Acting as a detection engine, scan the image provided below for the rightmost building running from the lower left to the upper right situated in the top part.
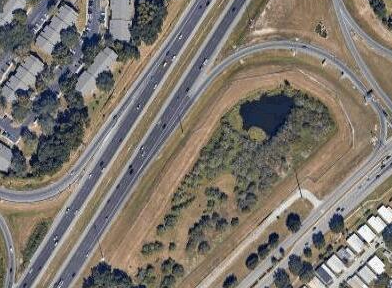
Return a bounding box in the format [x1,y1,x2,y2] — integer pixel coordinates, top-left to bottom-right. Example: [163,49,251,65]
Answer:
[77,52,115,98]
